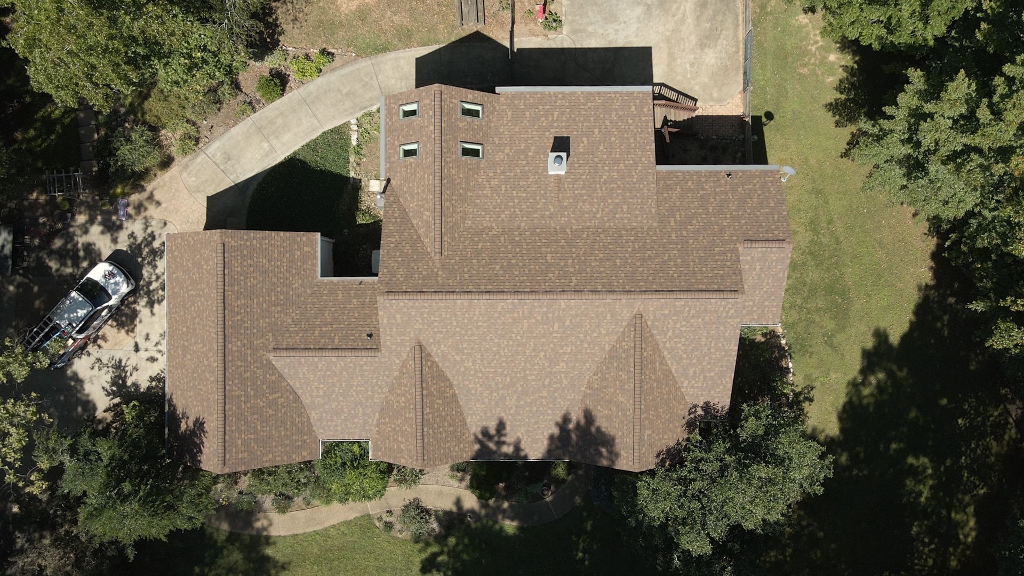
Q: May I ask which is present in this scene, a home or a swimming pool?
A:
home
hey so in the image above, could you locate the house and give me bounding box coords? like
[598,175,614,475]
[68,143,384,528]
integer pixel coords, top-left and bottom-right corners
[164,83,793,474]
